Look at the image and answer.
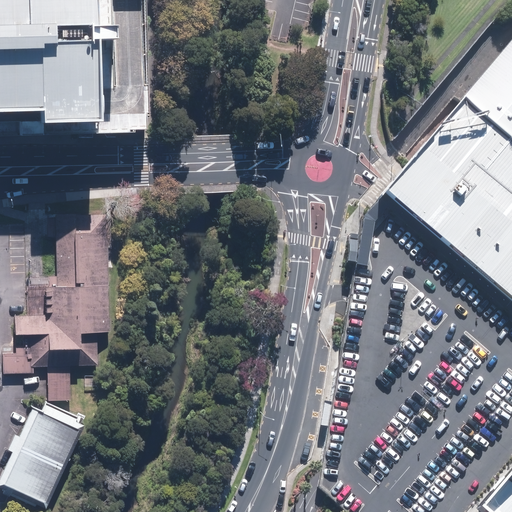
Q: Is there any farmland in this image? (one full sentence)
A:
No, there is no farmland in the image.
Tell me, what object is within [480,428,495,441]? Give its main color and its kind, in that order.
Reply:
blue vehicle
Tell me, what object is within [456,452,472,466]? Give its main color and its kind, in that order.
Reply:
blue car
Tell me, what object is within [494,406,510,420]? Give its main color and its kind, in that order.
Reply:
white vehicle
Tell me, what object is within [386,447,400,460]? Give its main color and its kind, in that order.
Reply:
white vehicle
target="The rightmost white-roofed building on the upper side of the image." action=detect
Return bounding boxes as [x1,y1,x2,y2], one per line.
[382,44,512,302]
